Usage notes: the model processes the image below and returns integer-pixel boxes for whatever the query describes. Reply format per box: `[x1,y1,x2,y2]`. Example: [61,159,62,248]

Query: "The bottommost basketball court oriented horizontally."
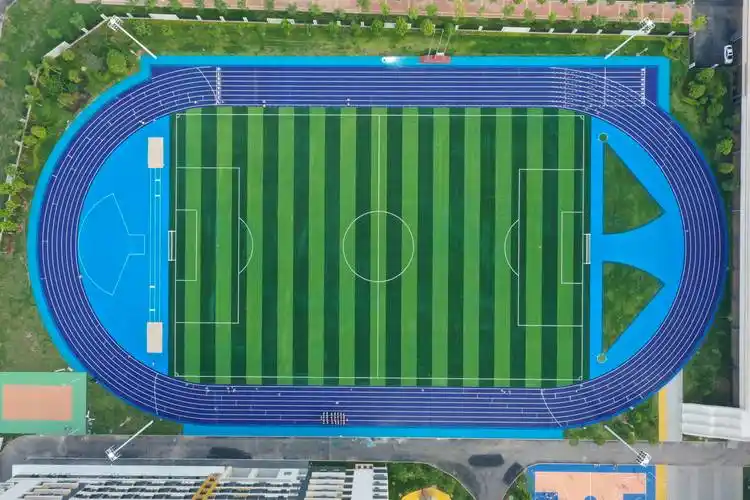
[529,465,656,500]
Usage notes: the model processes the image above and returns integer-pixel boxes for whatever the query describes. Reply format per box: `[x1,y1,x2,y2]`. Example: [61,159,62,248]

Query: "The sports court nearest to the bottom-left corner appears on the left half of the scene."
[0,372,89,435]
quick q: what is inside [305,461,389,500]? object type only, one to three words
building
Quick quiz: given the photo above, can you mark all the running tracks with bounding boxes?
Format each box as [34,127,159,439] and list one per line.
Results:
[27,56,729,436]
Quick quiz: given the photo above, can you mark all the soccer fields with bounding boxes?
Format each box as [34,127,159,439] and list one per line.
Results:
[168,105,591,387]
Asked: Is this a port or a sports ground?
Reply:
sports ground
